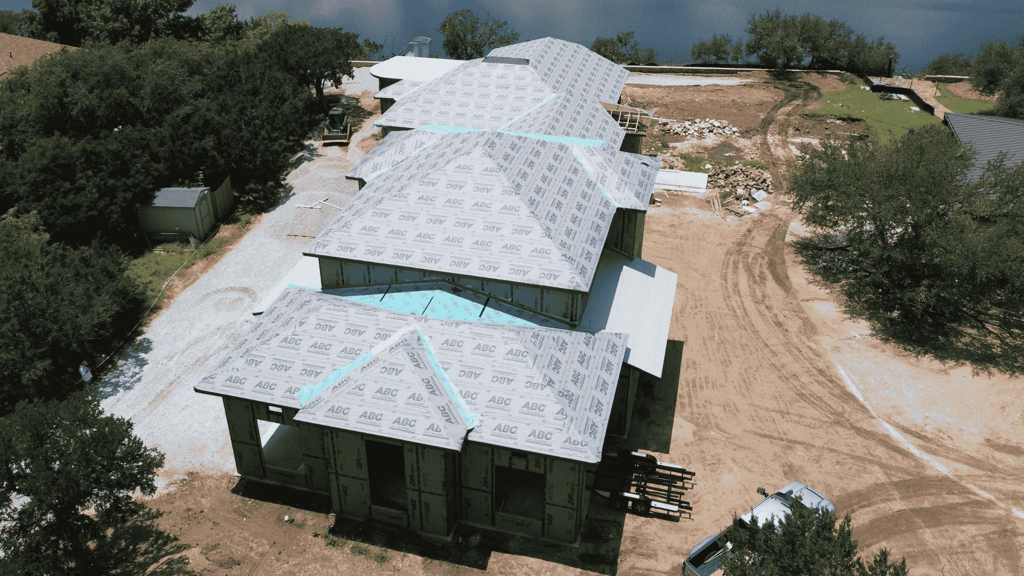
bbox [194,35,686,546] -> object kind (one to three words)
house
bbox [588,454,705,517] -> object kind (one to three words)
trailer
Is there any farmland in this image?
No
